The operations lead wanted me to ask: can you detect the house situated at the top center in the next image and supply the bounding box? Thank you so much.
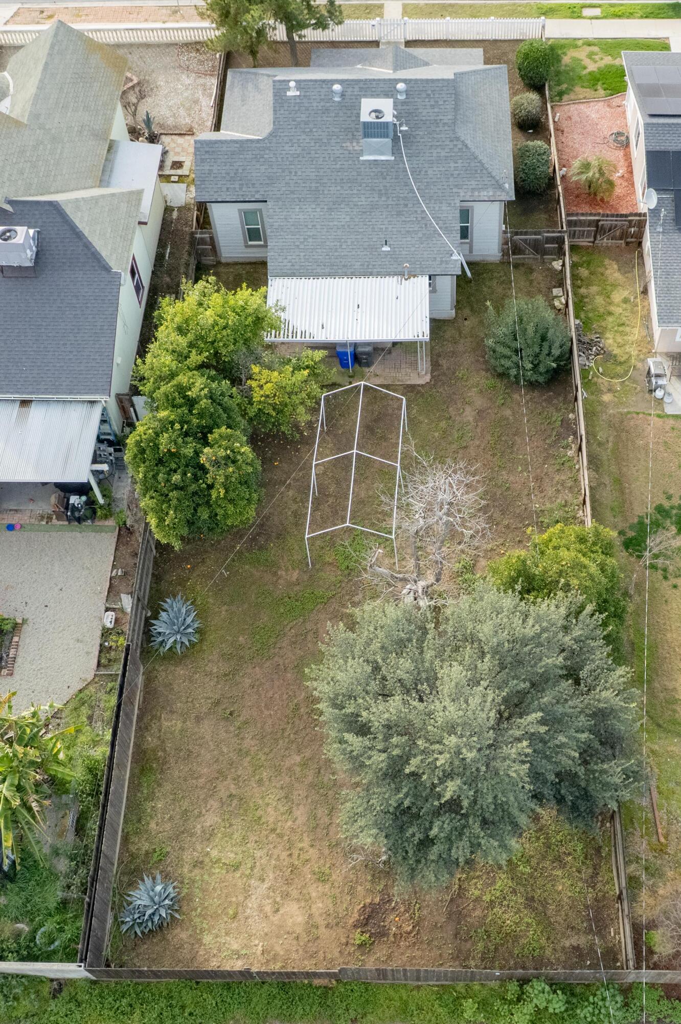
[192,47,517,319]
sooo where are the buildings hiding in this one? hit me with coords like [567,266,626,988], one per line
[617,51,681,353]
[0,19,165,431]
[192,47,517,319]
